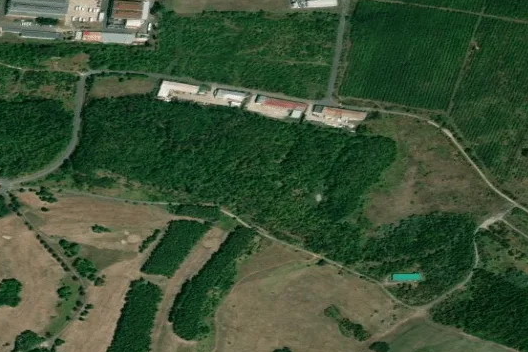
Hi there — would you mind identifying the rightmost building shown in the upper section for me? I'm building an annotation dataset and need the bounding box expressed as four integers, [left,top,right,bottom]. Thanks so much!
[324,107,366,120]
